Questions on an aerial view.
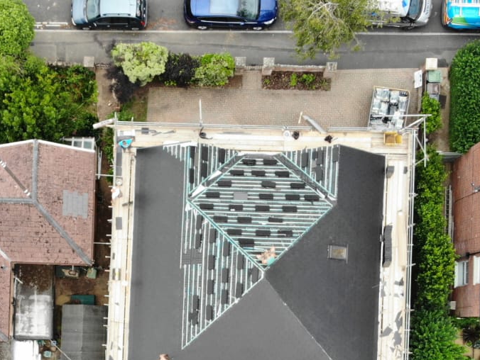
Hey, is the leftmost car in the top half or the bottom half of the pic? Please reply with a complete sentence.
The leftmost car sits in the top half of the picture.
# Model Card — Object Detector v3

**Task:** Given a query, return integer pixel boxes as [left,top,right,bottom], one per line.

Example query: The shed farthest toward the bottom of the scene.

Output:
[61,305,106,360]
